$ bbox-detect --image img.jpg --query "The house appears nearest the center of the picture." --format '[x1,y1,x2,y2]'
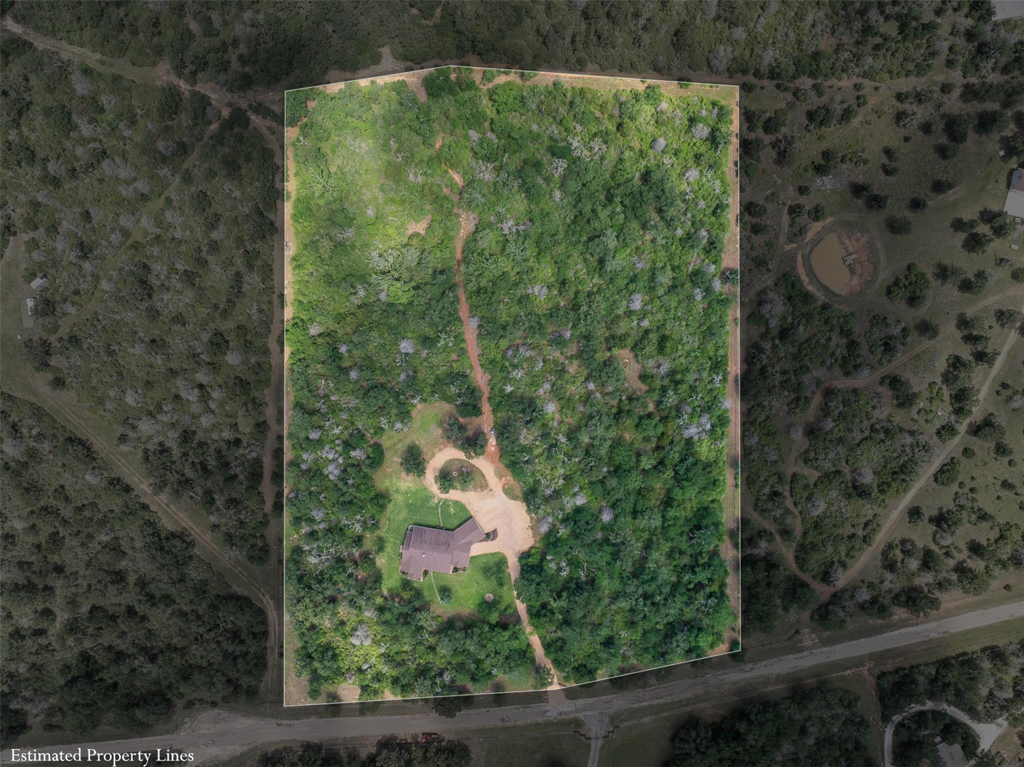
[400,517,486,581]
